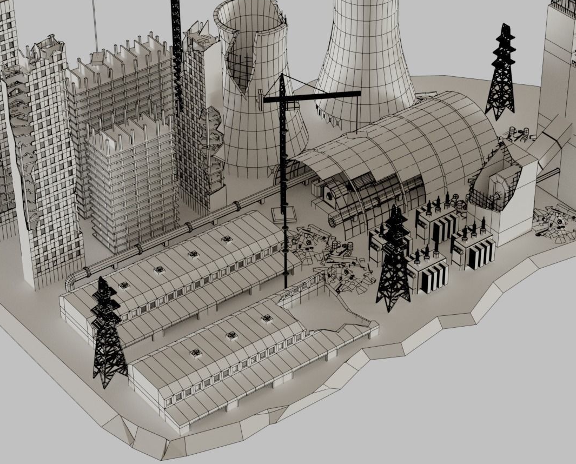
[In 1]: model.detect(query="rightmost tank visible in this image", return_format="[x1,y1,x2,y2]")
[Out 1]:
[453,226,493,269]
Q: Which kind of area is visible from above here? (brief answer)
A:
industrial area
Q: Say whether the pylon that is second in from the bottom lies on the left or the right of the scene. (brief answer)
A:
right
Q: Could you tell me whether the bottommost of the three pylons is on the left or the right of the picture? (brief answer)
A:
left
